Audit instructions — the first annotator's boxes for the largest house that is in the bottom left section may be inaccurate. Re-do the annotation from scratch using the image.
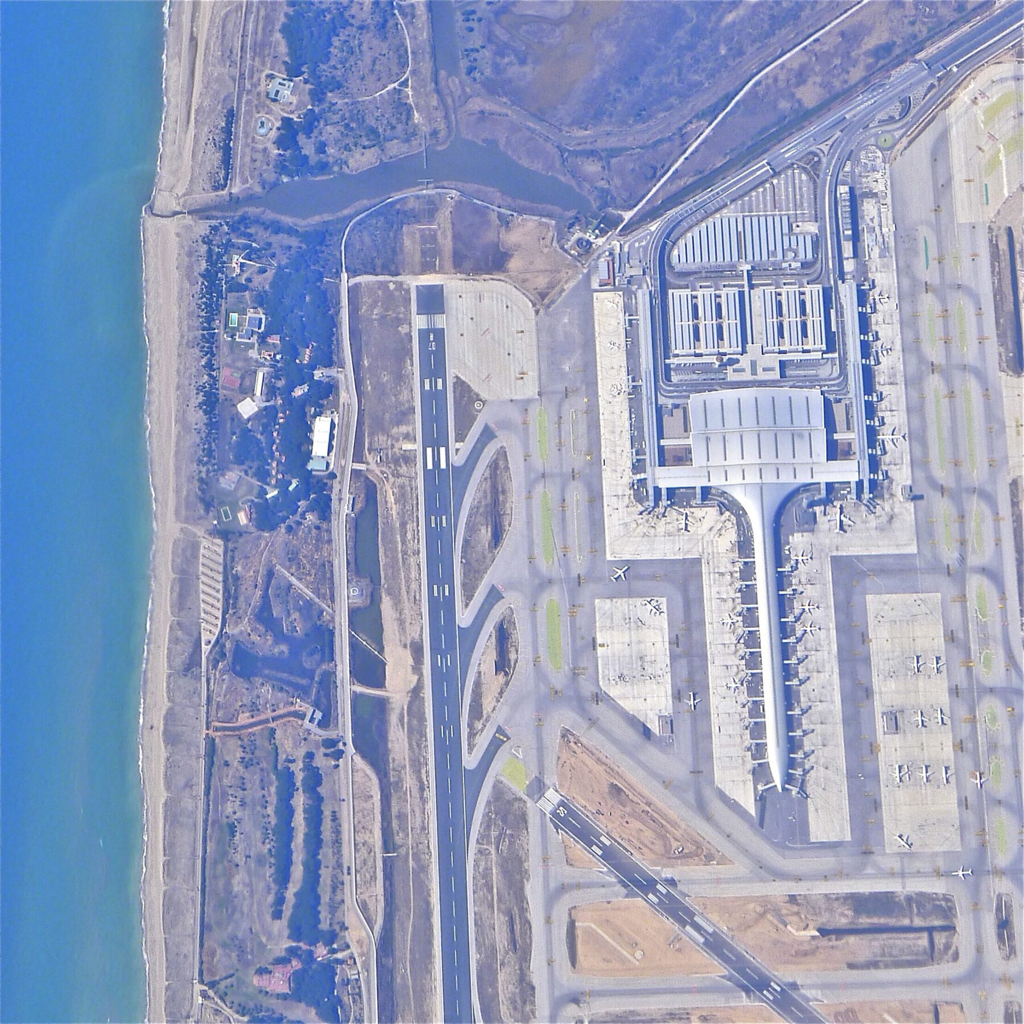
[254,960,299,993]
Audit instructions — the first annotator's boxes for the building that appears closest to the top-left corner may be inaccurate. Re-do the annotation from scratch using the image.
[268,77,294,103]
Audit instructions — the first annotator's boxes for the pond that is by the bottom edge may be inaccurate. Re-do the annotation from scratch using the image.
[353,696,395,1024]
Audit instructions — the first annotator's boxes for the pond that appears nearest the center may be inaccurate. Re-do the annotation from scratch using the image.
[349,477,387,685]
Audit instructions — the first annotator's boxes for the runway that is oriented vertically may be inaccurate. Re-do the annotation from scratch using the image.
[411,282,477,1024]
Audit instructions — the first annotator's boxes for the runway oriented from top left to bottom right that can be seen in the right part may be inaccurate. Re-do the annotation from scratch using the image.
[527,778,835,1024]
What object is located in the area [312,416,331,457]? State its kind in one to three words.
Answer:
building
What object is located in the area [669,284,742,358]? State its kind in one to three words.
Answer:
building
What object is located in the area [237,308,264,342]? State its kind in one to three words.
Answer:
house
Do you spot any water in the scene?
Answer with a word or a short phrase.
Yes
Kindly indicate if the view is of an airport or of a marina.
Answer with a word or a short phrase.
airport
